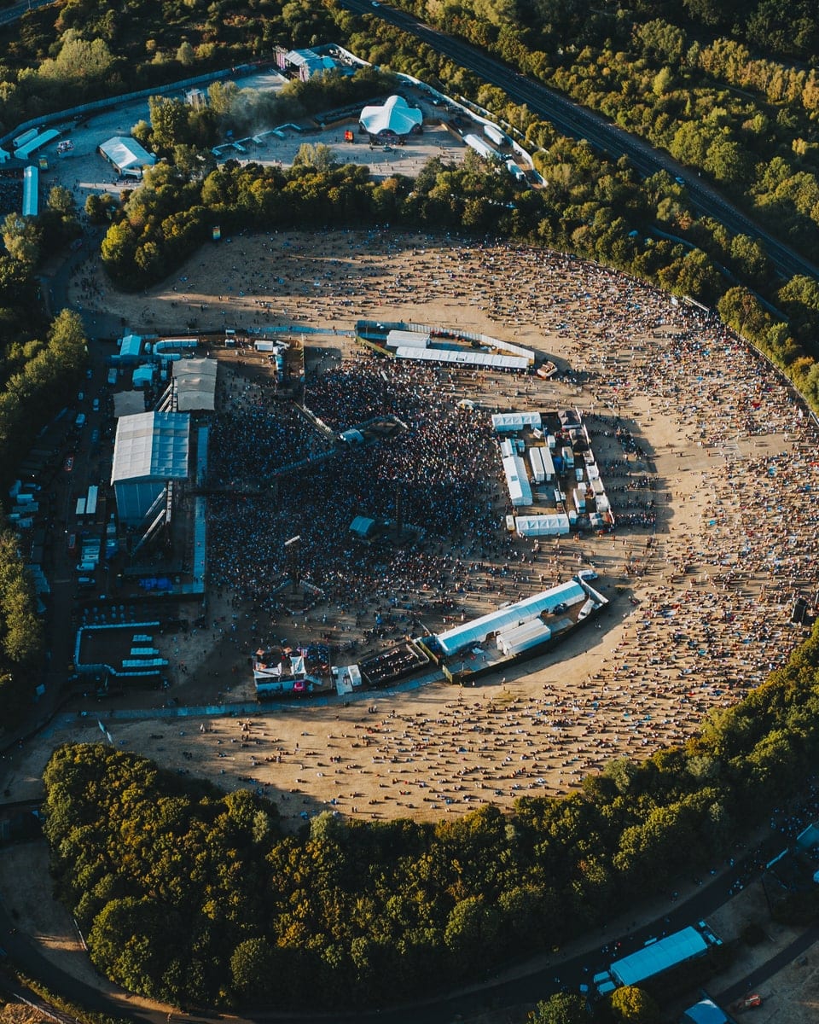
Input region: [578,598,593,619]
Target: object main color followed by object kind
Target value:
white vehicle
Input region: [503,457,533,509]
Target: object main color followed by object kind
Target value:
white tent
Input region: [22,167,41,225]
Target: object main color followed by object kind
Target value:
blue tent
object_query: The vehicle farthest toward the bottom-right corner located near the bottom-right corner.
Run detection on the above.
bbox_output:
[743,994,767,1011]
